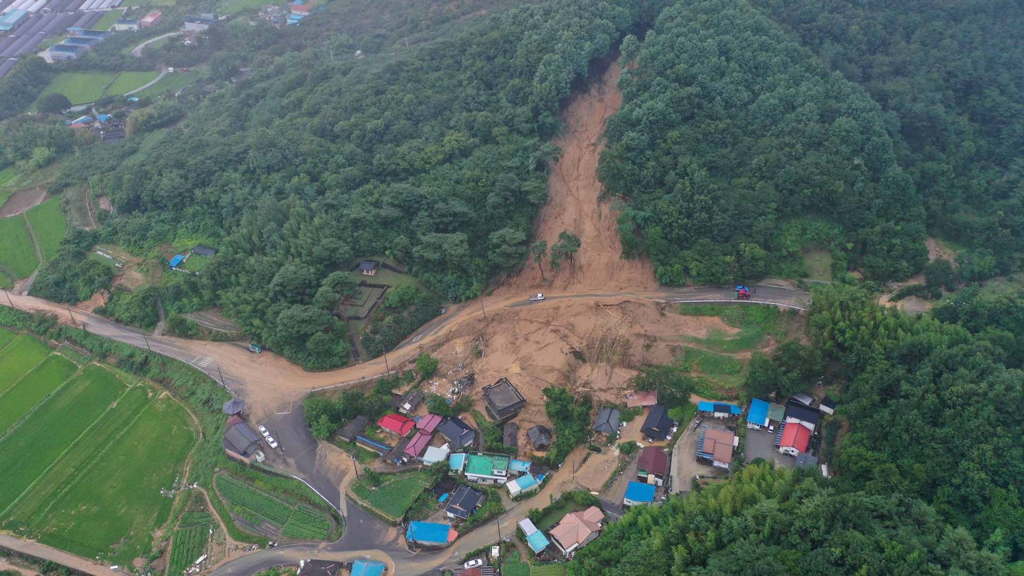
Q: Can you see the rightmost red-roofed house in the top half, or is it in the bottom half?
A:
bottom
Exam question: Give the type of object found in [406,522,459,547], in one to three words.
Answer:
building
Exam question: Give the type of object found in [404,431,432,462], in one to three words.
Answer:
house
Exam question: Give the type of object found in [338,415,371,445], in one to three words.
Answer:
shed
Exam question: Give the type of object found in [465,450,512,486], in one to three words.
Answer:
house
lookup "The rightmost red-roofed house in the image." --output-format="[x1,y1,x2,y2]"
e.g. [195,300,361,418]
[772,422,810,458]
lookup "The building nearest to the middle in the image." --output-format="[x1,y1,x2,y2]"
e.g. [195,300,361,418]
[482,376,525,419]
